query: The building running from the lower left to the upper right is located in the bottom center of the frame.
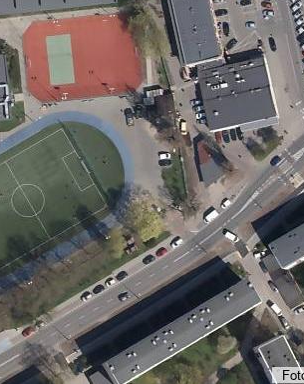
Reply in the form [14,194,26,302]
[101,278,262,384]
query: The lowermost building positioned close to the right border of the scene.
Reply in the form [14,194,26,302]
[257,335,304,384]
